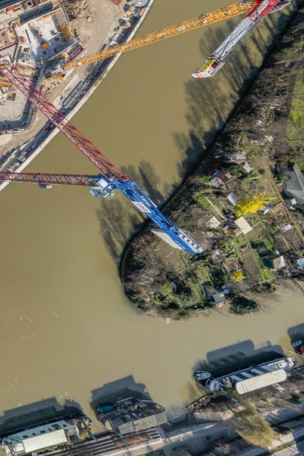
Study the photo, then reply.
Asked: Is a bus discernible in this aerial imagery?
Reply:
No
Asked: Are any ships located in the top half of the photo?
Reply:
No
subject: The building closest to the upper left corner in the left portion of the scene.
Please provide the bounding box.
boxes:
[10,8,77,70]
